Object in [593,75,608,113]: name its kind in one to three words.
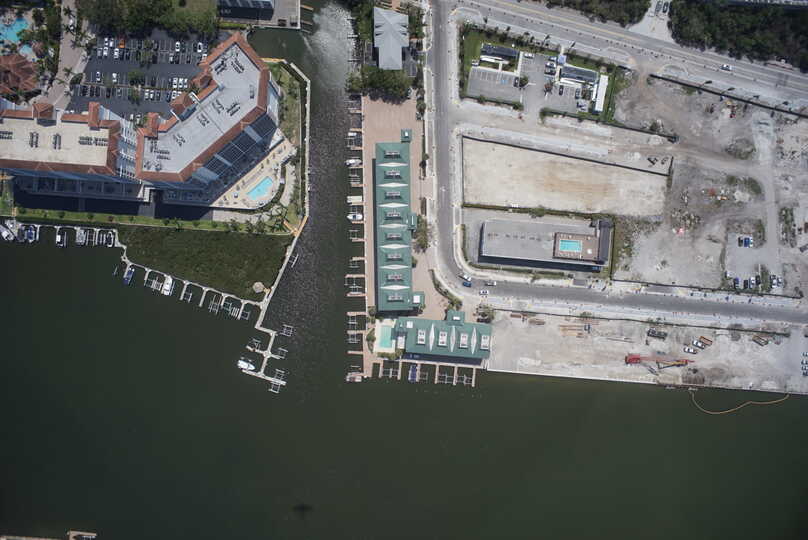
building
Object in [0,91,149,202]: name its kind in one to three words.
building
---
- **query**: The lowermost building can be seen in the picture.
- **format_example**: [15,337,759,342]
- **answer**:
[391,309,491,358]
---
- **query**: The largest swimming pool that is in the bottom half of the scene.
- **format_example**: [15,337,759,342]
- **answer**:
[375,320,398,353]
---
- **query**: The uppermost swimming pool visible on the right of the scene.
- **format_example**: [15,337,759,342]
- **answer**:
[559,240,582,253]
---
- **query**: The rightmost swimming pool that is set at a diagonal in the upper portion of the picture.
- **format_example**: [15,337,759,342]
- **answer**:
[245,176,275,201]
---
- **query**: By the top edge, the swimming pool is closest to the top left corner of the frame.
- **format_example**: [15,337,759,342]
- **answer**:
[0,17,30,44]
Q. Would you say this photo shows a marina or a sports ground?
marina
